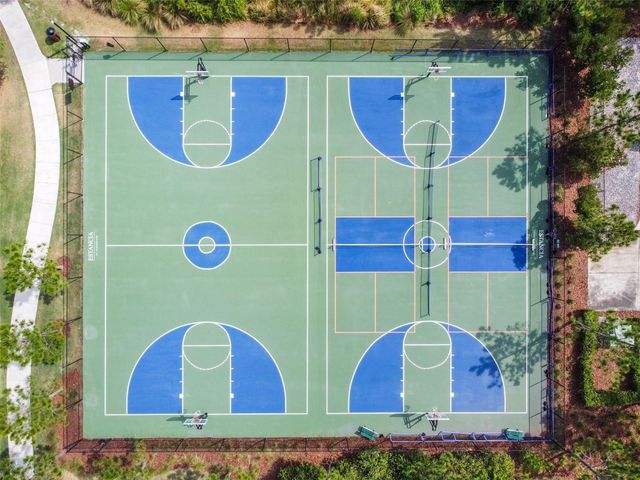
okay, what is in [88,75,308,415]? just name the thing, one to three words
basketball court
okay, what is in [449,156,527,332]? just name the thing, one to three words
sports court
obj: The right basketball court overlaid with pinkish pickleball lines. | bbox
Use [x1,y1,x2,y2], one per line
[327,76,544,414]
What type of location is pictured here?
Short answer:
sports ground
